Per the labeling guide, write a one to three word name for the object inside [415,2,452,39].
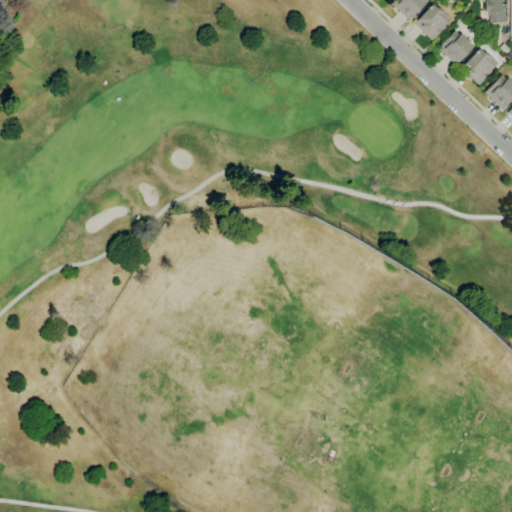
house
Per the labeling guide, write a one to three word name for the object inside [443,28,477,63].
house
